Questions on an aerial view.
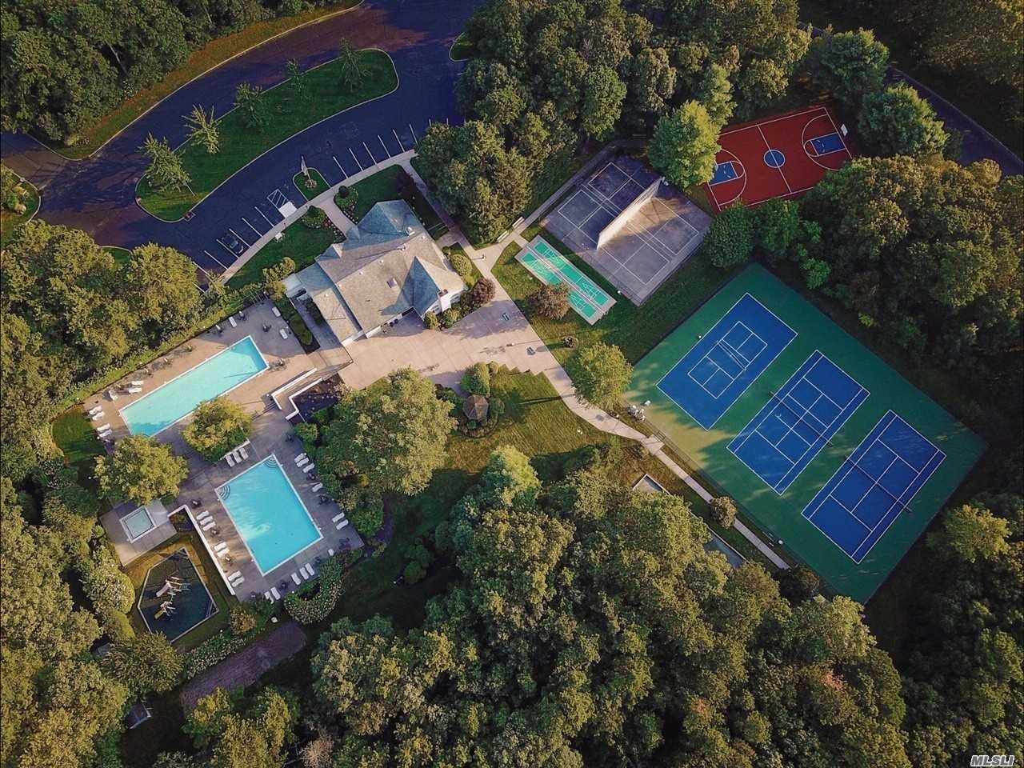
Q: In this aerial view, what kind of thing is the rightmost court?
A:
tennis court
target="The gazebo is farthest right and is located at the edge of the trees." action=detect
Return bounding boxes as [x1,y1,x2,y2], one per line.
[464,397,489,425]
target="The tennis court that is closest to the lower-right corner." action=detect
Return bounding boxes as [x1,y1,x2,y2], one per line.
[803,409,948,563]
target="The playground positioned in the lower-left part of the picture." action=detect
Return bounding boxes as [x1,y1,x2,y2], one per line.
[136,546,220,637]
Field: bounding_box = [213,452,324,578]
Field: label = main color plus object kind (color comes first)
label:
blue swimming pool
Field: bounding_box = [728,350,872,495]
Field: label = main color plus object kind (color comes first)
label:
blue tennis court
